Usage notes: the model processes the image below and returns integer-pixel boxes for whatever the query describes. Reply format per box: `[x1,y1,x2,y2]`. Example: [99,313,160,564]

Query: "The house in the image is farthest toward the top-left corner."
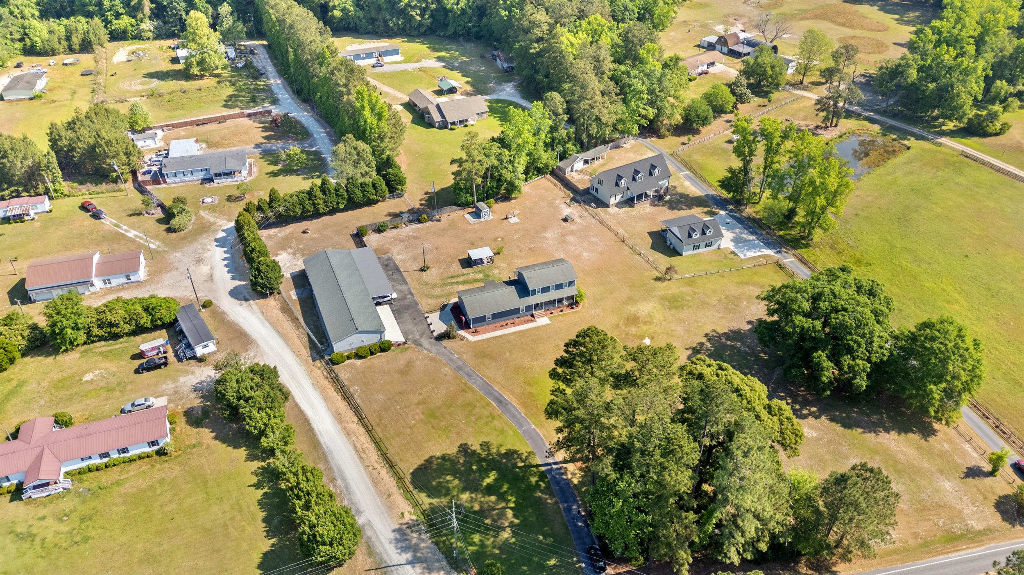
[1,73,48,100]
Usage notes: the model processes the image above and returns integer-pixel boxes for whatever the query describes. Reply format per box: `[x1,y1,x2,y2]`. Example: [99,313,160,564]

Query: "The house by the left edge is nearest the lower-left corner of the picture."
[0,406,171,510]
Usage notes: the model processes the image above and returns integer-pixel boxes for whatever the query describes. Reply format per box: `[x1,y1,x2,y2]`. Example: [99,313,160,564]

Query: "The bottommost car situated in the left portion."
[124,396,155,415]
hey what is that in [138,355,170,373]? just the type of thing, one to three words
vehicle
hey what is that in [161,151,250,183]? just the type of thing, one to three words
house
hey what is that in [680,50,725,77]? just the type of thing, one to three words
house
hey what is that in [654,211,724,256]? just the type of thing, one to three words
building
